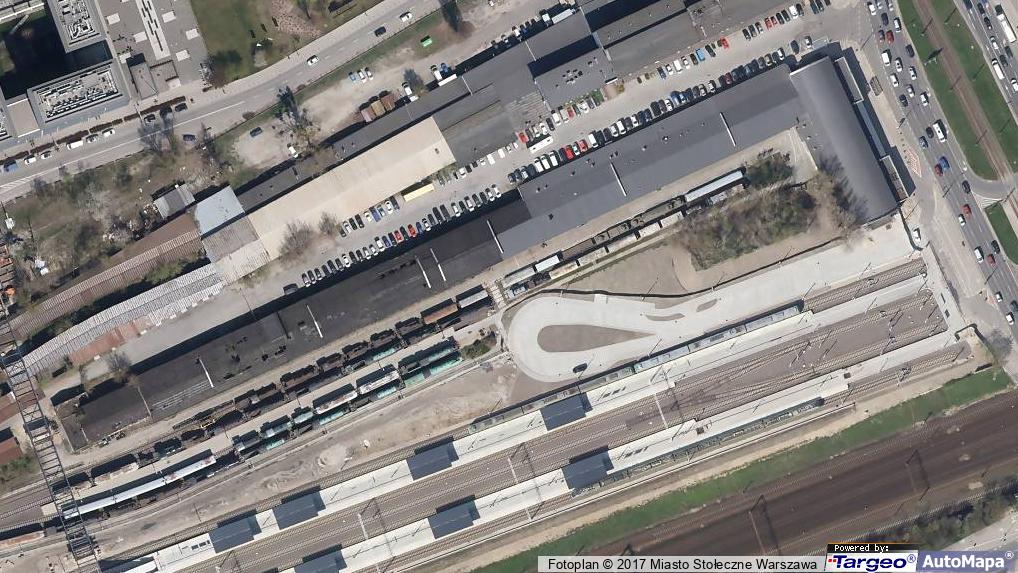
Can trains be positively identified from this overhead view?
Yes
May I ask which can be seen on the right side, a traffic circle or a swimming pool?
traffic circle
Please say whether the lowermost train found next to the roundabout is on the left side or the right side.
right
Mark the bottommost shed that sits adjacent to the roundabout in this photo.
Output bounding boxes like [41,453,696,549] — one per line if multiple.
[76,193,531,452]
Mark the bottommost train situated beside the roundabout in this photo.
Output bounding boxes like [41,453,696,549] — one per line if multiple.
[574,402,823,497]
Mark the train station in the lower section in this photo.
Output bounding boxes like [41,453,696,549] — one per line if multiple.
[96,246,966,573]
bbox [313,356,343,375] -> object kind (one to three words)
rail car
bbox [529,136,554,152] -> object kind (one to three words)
vehicle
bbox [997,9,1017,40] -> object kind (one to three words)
vehicle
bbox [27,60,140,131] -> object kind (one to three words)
building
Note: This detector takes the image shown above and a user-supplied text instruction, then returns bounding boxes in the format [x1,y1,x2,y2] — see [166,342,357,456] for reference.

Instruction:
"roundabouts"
[509,210,921,383]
